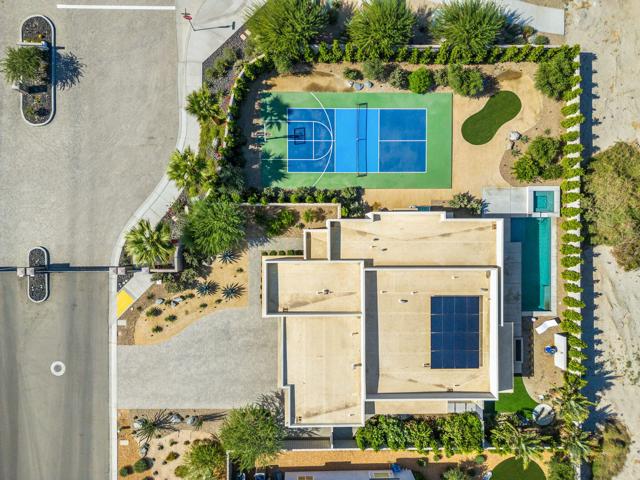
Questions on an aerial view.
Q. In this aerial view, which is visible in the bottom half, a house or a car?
house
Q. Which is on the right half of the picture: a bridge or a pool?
pool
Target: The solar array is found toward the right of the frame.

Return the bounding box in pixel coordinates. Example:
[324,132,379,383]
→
[430,296,482,368]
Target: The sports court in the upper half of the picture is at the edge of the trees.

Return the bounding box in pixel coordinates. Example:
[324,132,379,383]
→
[258,92,452,188]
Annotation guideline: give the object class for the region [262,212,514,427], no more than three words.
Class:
house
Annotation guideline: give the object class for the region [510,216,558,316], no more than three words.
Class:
swimming pool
